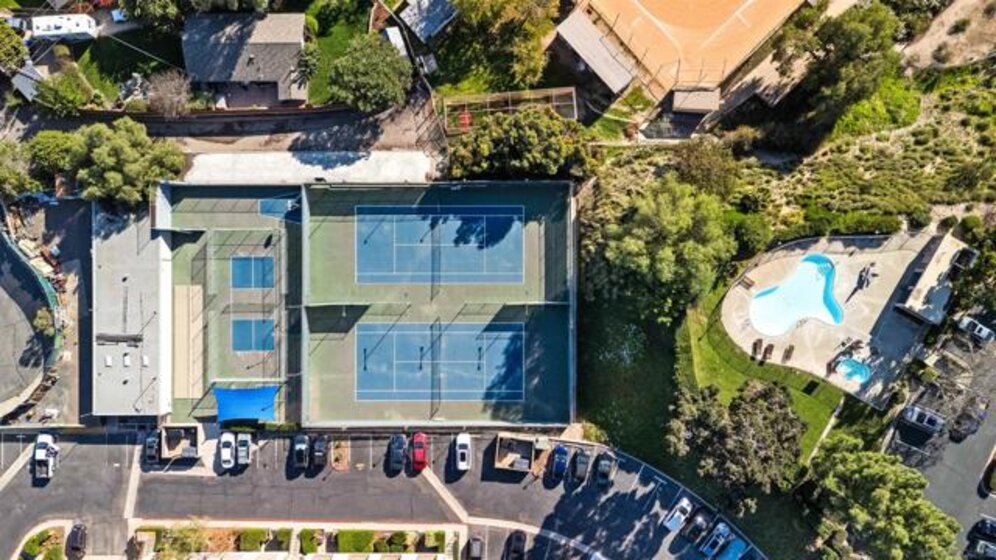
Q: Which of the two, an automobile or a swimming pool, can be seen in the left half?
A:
automobile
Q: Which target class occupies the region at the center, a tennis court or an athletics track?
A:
tennis court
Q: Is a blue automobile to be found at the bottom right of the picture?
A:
Yes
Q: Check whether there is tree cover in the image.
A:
Yes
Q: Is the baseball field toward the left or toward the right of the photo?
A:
right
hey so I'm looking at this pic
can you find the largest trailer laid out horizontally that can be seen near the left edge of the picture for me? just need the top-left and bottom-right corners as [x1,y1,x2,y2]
[33,14,118,43]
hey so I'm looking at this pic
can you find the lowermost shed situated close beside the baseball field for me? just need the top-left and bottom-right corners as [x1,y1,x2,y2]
[669,88,720,116]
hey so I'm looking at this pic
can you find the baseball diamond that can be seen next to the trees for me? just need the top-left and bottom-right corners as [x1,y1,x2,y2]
[591,0,803,97]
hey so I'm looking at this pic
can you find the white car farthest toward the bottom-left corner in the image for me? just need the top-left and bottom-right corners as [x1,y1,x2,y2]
[36,434,57,476]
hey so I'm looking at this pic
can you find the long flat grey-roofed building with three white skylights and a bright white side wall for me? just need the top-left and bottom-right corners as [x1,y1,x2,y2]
[91,204,173,416]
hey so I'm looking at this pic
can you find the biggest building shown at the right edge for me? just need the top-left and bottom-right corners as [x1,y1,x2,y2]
[880,233,969,325]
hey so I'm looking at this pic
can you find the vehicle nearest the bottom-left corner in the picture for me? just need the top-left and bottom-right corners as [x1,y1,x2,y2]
[66,524,87,560]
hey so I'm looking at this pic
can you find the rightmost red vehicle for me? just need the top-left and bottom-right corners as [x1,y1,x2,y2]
[411,433,428,469]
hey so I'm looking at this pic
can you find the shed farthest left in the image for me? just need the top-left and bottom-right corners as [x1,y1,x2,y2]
[12,60,51,102]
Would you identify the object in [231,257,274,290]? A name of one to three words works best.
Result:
sports court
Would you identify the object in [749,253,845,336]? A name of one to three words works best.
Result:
swimming pool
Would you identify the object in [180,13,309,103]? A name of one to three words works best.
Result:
house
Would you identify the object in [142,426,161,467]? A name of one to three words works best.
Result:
car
